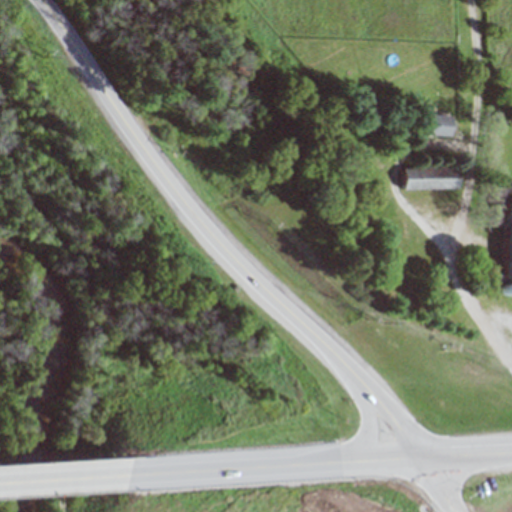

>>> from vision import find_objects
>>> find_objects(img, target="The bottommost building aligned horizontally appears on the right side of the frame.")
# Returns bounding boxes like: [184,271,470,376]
[406,166,464,190]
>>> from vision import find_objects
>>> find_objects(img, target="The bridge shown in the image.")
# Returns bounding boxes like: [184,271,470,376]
[0,458,134,498]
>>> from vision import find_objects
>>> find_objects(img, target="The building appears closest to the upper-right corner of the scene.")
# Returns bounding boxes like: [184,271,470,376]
[434,112,458,138]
